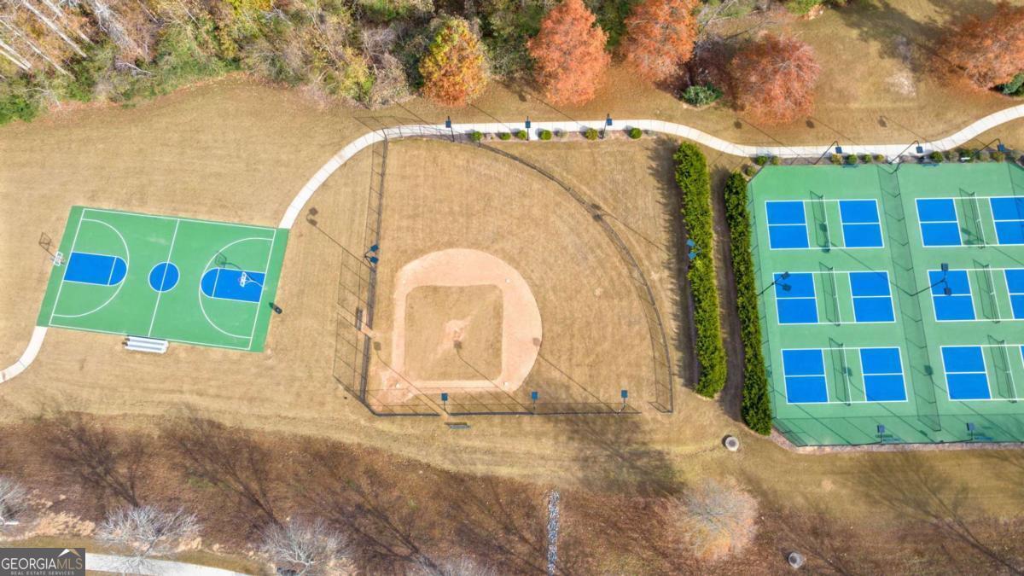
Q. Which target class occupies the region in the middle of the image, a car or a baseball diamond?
baseball diamond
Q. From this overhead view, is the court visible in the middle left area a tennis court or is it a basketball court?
basketball court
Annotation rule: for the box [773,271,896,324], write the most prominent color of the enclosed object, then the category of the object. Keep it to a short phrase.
blue sports court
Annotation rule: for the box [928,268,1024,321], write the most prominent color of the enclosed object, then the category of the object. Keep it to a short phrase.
blue sports court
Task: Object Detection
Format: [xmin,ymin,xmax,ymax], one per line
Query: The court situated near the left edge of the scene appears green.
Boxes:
[36,206,289,352]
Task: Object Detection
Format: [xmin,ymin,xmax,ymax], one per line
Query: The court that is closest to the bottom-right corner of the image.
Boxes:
[941,345,1024,400]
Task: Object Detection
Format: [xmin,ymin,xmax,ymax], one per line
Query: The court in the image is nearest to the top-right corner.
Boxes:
[916,196,1024,246]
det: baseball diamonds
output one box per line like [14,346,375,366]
[365,137,673,416]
